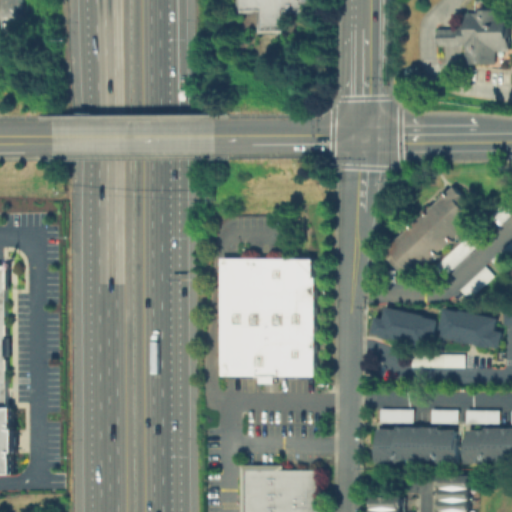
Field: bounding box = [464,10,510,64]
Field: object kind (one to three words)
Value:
house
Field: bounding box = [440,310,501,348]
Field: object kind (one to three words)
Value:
building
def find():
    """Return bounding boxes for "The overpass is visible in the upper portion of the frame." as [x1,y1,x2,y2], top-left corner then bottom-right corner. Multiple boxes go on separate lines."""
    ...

[39,113,219,158]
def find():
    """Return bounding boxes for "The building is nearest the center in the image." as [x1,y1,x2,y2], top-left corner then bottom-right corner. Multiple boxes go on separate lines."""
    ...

[220,258,314,386]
